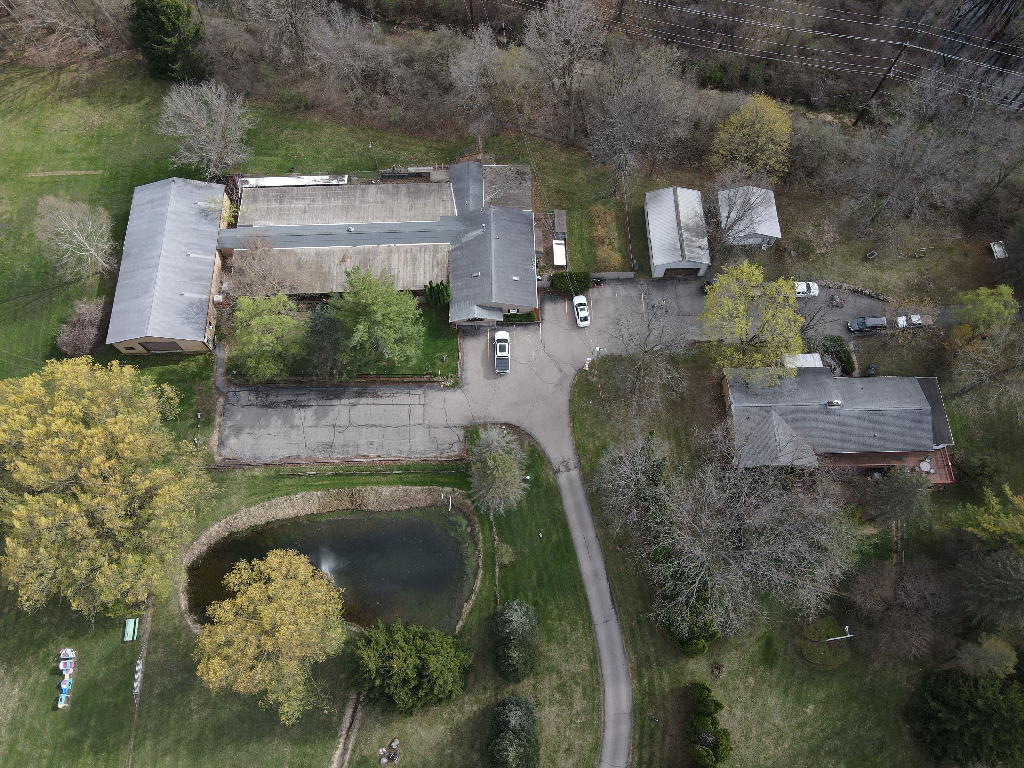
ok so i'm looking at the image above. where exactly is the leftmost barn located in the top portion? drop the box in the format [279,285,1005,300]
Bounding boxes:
[106,177,230,353]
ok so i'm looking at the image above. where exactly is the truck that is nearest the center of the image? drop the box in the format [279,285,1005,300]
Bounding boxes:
[492,331,513,377]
